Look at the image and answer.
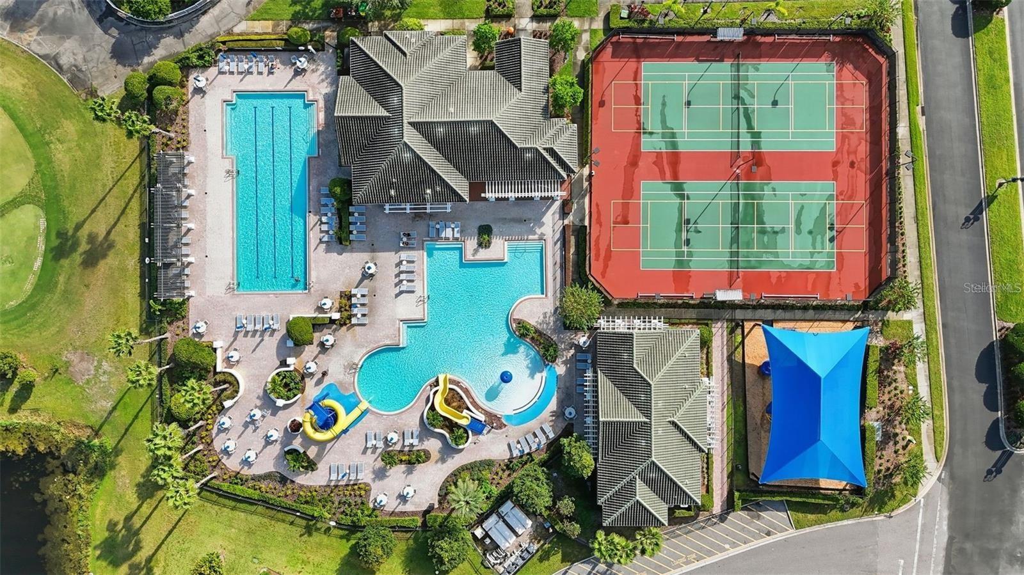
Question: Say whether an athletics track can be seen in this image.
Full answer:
No, this view has no athletics track in it.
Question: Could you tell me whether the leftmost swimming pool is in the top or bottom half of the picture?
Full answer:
The leftmost swimming pool is in the top half of the image.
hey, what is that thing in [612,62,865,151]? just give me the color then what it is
green tennis court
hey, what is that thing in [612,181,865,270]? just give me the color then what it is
green tennis court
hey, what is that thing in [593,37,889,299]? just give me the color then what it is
red sports court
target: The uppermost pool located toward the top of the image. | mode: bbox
[222,89,321,296]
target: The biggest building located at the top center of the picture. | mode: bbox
[329,29,578,204]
